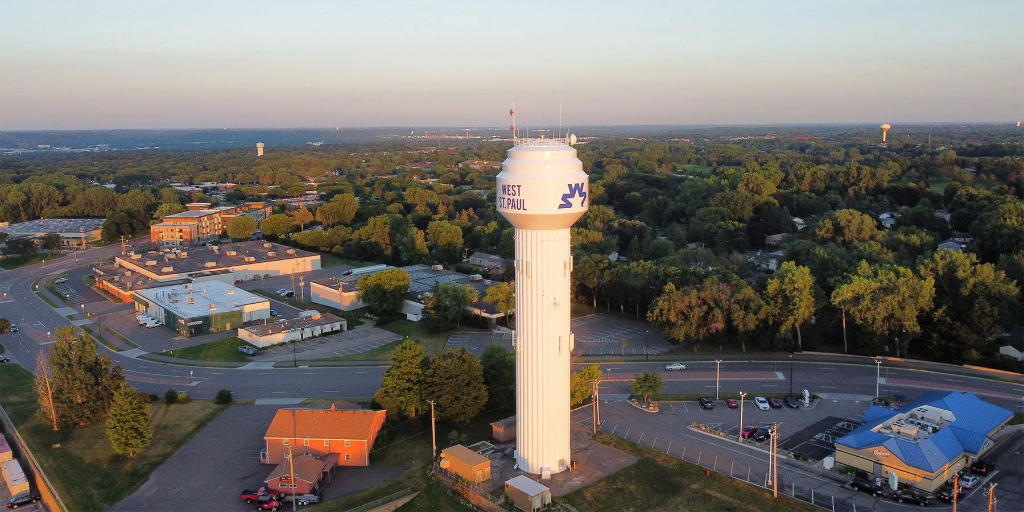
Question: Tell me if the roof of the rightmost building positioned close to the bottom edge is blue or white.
blue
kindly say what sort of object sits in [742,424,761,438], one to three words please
car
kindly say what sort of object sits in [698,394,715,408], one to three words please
car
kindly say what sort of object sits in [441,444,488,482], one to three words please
shed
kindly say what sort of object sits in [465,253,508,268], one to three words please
house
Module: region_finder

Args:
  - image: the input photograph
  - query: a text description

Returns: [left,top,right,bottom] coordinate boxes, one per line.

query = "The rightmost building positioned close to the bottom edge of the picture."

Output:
[833,388,1015,493]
